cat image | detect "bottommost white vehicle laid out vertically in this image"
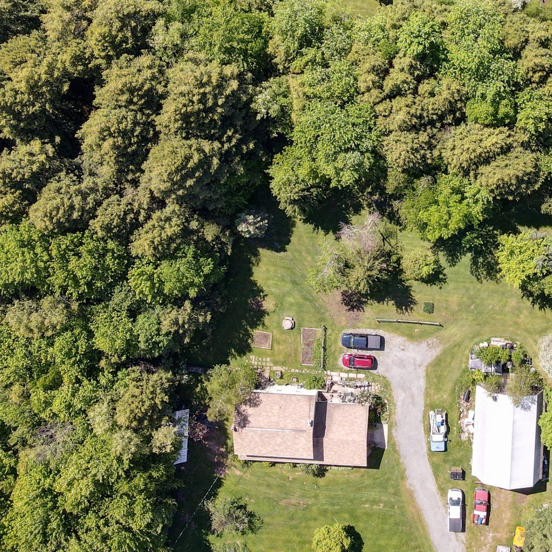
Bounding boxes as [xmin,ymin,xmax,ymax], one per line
[447,486,465,534]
